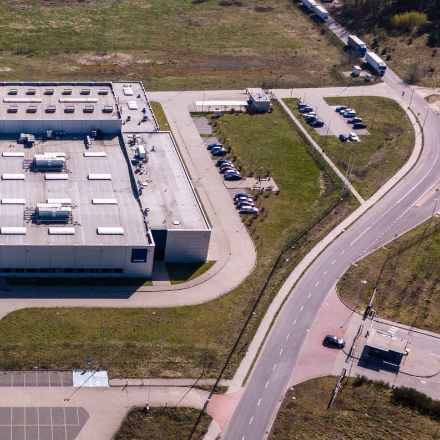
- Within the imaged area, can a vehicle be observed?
Yes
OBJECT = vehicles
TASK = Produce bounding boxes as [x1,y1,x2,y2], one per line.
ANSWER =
[302,112,316,118]
[335,106,347,112]
[212,150,228,157]
[216,159,232,165]
[238,201,254,208]
[364,53,387,75]
[346,134,360,141]
[342,111,357,118]
[322,335,345,347]
[300,107,314,113]
[225,170,240,175]
[306,115,318,122]
[347,35,368,55]
[207,143,223,149]
[222,165,236,172]
[339,109,353,114]
[312,4,330,19]
[310,121,323,127]
[347,118,363,124]
[234,193,252,200]
[302,0,316,8]
[212,147,225,152]
[296,103,310,109]
[353,124,366,129]
[337,134,350,141]
[240,206,259,213]
[225,173,241,180]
